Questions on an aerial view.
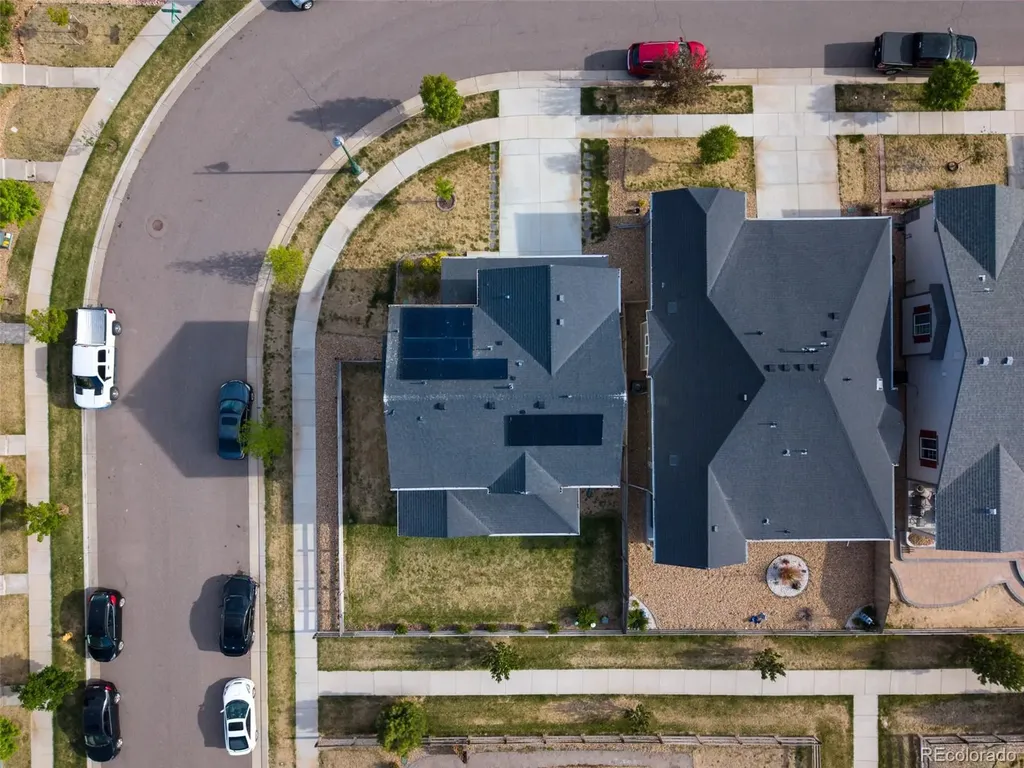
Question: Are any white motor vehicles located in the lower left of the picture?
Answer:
Yes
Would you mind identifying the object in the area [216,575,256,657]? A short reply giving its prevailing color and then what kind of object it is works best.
black car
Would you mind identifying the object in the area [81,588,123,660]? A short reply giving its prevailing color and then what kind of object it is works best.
black car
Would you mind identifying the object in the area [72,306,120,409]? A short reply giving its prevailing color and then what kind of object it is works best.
white truck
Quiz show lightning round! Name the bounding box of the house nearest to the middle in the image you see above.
[385,256,625,539]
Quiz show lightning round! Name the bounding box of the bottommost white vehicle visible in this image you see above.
[216,677,255,755]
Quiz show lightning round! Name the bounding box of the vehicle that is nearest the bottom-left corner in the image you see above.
[79,681,122,759]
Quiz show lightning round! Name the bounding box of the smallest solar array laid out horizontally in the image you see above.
[508,415,603,447]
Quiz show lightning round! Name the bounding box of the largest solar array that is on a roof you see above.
[399,307,508,379]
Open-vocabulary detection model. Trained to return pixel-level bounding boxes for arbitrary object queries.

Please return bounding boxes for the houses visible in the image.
[641,187,904,570]
[385,256,625,539]
[903,183,1024,552]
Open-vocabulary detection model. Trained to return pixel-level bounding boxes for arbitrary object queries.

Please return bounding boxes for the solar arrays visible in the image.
[399,307,508,379]
[508,415,603,447]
